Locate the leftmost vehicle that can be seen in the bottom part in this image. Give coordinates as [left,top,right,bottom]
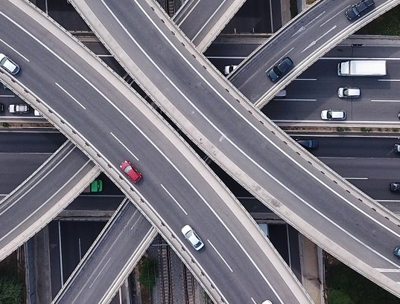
[81,178,104,194]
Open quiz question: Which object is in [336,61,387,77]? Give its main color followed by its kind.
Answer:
white vehicle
